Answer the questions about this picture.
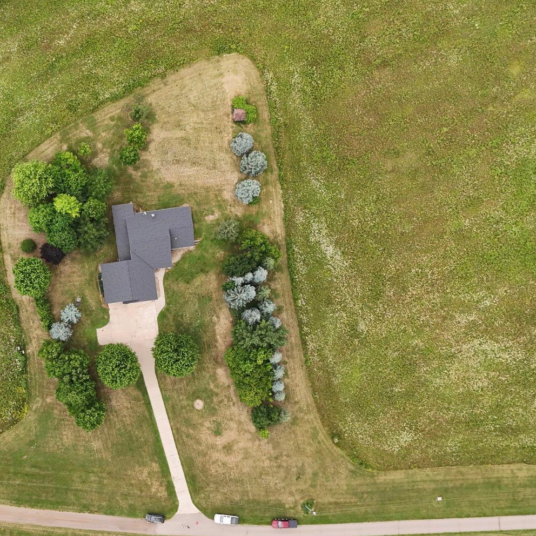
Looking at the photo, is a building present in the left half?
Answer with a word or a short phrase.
Yes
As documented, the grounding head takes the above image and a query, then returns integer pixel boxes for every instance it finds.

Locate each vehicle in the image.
[145,513,164,523]
[214,514,239,524]
[271,519,297,527]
